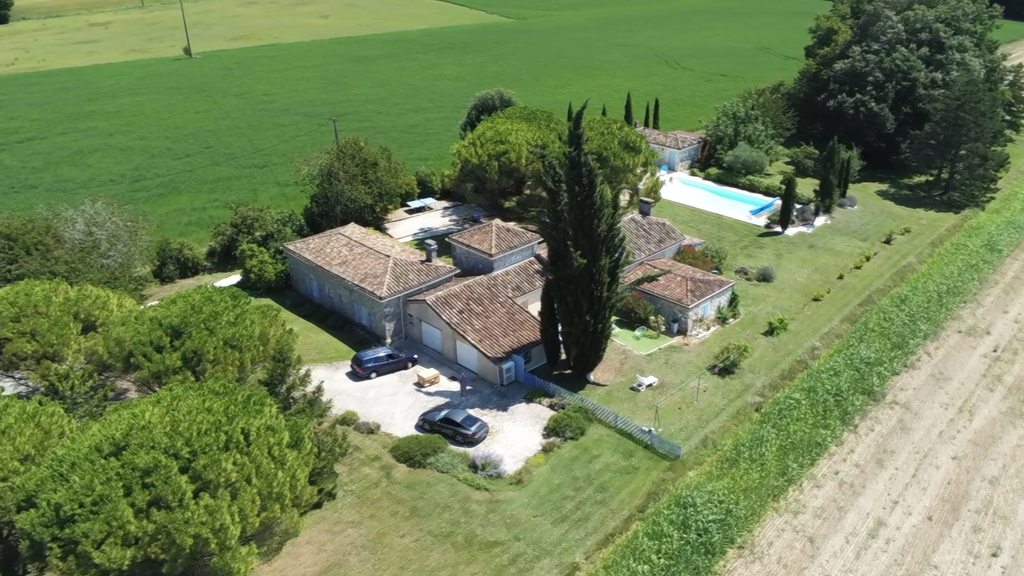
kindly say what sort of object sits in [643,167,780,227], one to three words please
swimming pool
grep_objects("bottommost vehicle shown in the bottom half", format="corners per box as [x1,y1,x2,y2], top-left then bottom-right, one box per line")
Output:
[417,406,486,445]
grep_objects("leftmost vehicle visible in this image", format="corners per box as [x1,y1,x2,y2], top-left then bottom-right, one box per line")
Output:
[354,345,421,378]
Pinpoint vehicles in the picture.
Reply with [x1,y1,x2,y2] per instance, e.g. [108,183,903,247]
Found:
[417,406,486,445]
[354,345,421,378]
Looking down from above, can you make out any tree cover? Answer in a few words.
Yes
